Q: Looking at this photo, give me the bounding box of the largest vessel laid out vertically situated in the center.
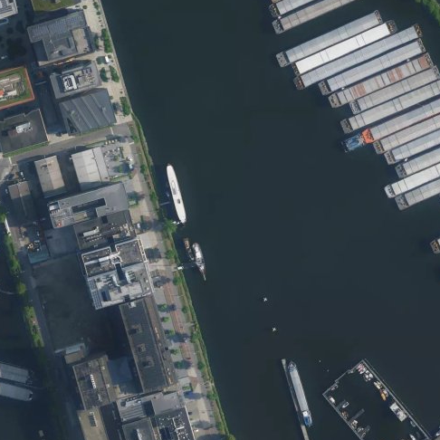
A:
[167,165,187,223]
